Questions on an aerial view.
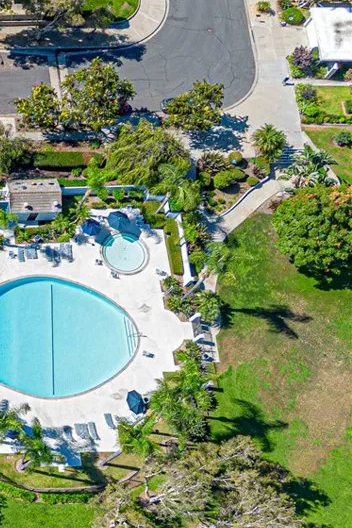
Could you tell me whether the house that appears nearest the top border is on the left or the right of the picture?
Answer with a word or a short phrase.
right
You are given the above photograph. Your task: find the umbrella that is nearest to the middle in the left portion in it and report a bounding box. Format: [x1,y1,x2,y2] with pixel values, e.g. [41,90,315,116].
[106,212,129,232]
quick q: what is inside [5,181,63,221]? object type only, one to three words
building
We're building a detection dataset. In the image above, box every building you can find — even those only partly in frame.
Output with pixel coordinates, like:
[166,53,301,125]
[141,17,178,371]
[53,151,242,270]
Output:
[298,7,352,79]
[5,181,63,221]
